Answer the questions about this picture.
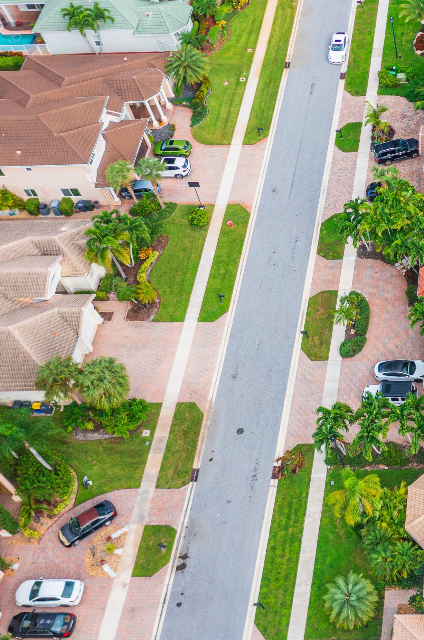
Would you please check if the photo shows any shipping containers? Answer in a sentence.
No, I find no shipping container anywhere in the image.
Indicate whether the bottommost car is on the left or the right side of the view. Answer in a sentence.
The bottommost car sits on the left side.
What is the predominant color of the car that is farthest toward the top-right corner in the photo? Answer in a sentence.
The color of the car that is farthest toward the top-right corner is white.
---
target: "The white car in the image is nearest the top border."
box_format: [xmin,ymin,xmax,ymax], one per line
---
[325,32,348,64]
